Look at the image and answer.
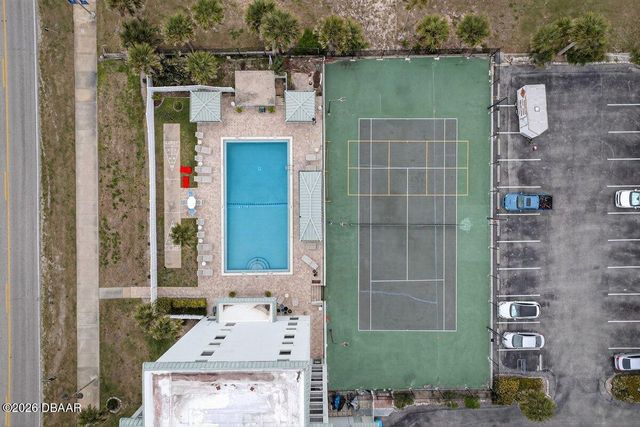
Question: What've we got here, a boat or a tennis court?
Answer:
tennis court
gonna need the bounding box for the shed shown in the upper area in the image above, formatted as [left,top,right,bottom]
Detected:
[235,71,276,108]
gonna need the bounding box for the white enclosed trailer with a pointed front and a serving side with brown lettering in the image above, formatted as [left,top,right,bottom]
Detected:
[519,84,549,148]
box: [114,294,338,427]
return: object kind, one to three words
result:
building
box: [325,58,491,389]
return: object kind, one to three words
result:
tennis court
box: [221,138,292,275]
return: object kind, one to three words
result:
swimming pool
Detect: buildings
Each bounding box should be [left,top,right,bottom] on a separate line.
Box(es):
[114,294,338,427]
[235,71,276,108]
